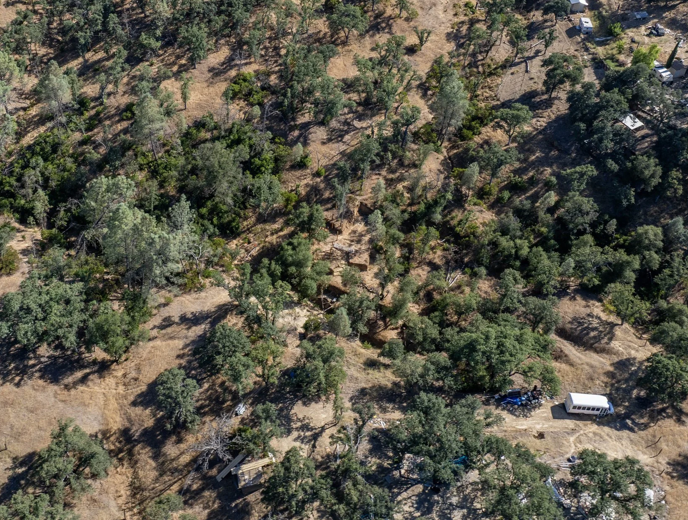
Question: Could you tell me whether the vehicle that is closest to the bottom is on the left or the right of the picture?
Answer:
right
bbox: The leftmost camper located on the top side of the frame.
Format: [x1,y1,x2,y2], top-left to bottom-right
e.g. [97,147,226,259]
[576,14,589,33]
